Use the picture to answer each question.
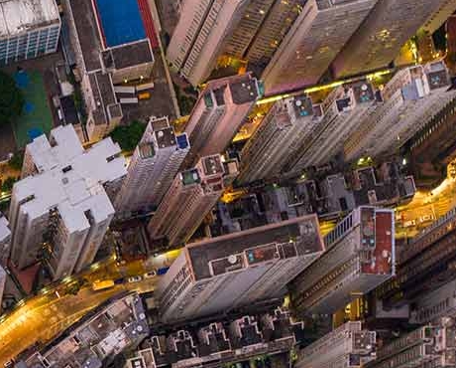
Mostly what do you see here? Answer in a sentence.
What you mostly see from above here is buildings.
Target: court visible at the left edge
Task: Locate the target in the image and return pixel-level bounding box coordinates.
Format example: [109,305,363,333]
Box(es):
[16,69,52,147]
